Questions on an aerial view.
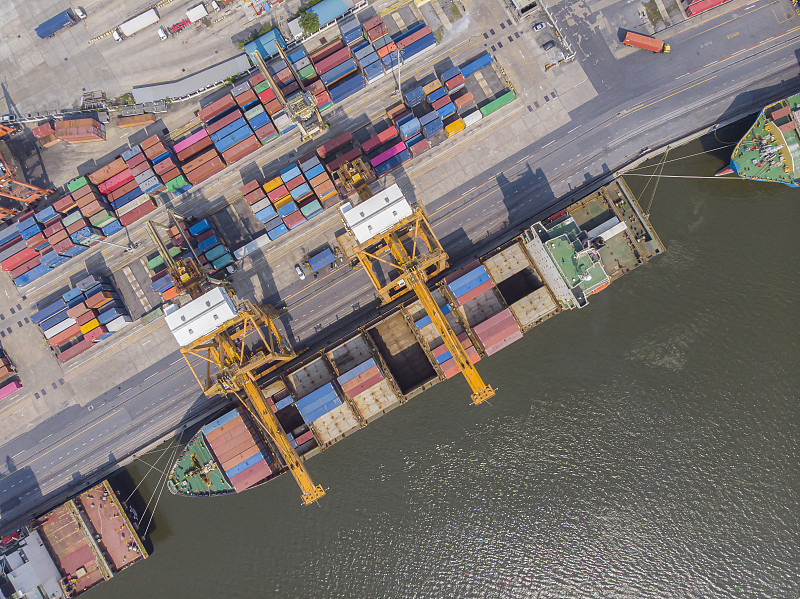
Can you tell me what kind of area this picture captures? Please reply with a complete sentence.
The area seen from above is a port.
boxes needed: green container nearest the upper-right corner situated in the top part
[478,89,516,117]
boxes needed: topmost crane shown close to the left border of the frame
[0,153,59,209]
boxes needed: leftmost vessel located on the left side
[0,480,152,599]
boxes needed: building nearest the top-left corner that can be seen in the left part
[73,86,105,109]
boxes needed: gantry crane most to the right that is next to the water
[332,151,496,400]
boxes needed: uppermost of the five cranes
[251,37,331,144]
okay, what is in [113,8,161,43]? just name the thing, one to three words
truck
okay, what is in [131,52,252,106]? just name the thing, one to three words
shed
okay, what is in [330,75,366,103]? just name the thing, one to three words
shipping container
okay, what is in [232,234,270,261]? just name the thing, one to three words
shipping container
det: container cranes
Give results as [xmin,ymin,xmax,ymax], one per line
[146,205,239,291]
[332,151,496,400]
[251,37,331,144]
[0,153,59,209]
[158,253,322,503]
